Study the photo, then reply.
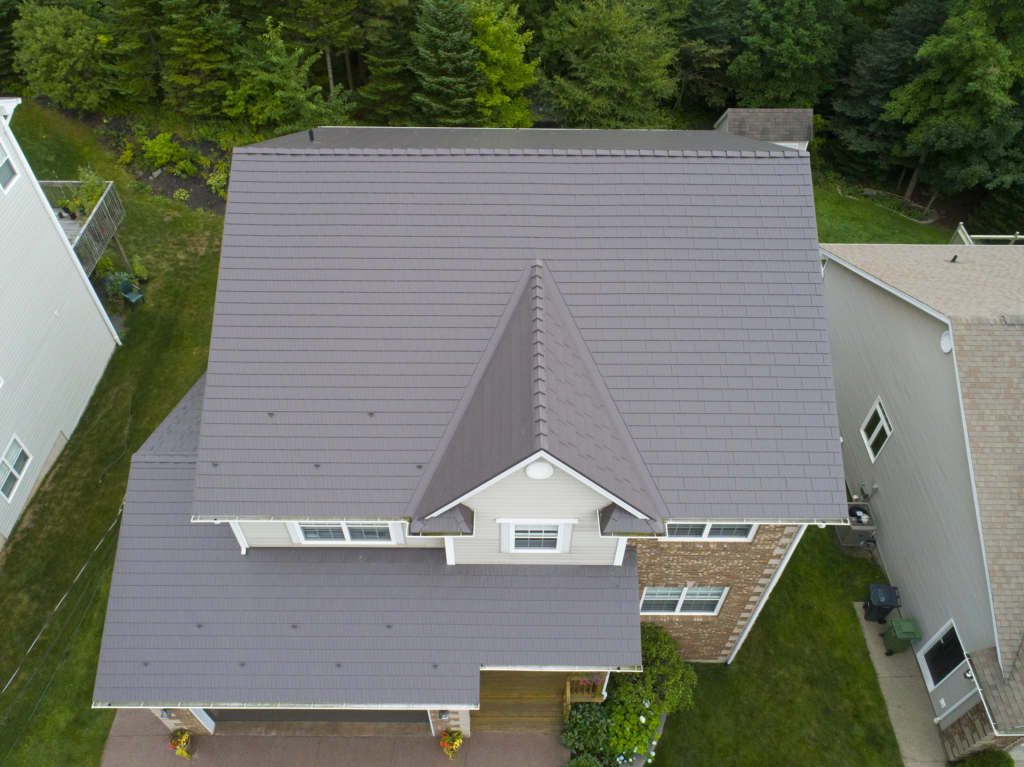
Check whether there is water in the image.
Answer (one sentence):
No, there is no water in the image.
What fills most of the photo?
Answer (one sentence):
For the most part, this view shows buildings.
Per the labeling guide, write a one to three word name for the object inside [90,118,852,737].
house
